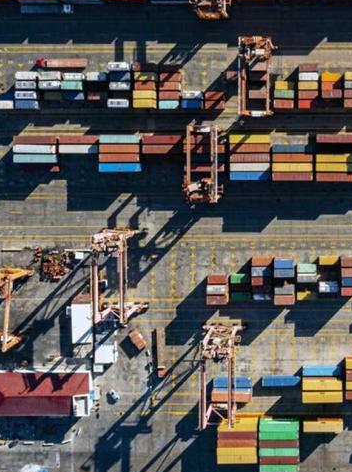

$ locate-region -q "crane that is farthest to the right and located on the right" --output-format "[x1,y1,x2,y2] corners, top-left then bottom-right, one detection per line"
[227,32,284,121]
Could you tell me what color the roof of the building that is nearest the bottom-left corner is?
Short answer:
red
